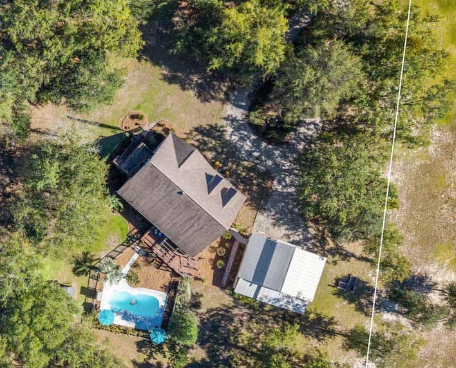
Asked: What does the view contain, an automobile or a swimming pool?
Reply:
swimming pool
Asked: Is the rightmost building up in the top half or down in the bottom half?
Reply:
bottom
